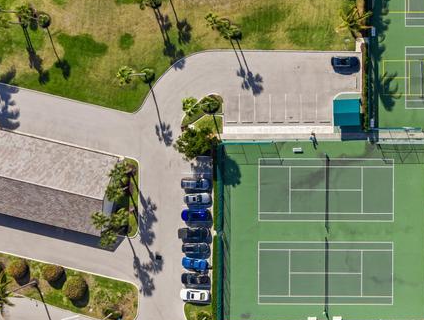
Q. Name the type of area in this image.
sports ground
